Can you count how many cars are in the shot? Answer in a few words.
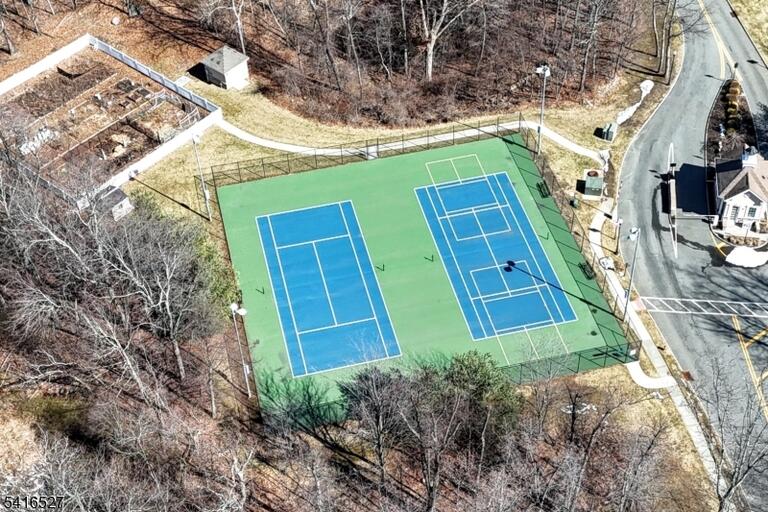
none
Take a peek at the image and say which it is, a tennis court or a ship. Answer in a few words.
tennis court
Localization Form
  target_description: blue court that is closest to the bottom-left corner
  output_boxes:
[256,200,402,377]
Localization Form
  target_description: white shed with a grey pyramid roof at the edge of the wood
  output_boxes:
[202,46,249,88]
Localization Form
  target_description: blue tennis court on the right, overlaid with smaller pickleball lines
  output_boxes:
[415,154,578,364]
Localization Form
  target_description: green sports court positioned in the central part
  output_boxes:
[215,133,638,436]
